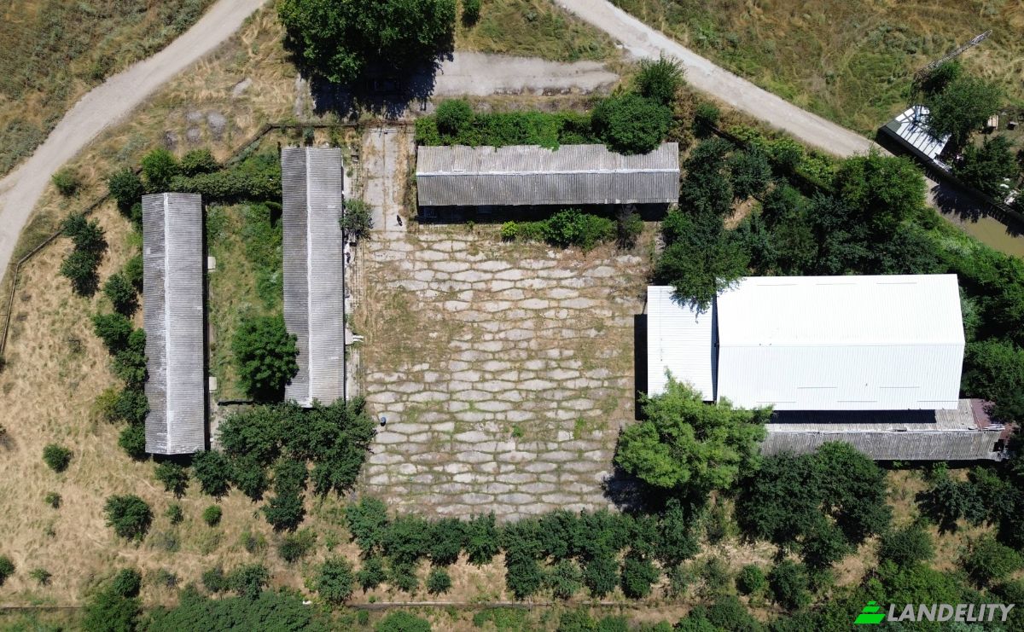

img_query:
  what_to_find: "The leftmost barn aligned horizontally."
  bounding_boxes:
[416,143,683,206]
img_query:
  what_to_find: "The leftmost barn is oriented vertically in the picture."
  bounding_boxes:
[141,191,213,457]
